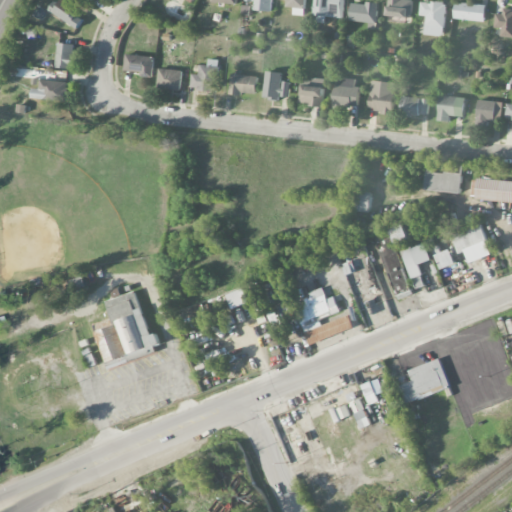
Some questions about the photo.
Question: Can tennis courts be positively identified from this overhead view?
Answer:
No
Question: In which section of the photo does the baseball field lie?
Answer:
left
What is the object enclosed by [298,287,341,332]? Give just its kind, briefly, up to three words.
building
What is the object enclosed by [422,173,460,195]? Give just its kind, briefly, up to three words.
house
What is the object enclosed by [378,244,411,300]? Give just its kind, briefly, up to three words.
building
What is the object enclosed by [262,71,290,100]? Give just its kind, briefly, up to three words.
house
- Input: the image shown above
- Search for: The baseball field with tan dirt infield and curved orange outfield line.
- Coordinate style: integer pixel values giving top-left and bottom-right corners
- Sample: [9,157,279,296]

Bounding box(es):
[0,146,130,286]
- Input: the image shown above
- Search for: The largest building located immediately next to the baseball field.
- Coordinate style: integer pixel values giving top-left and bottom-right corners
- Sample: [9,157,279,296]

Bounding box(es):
[93,292,160,368]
